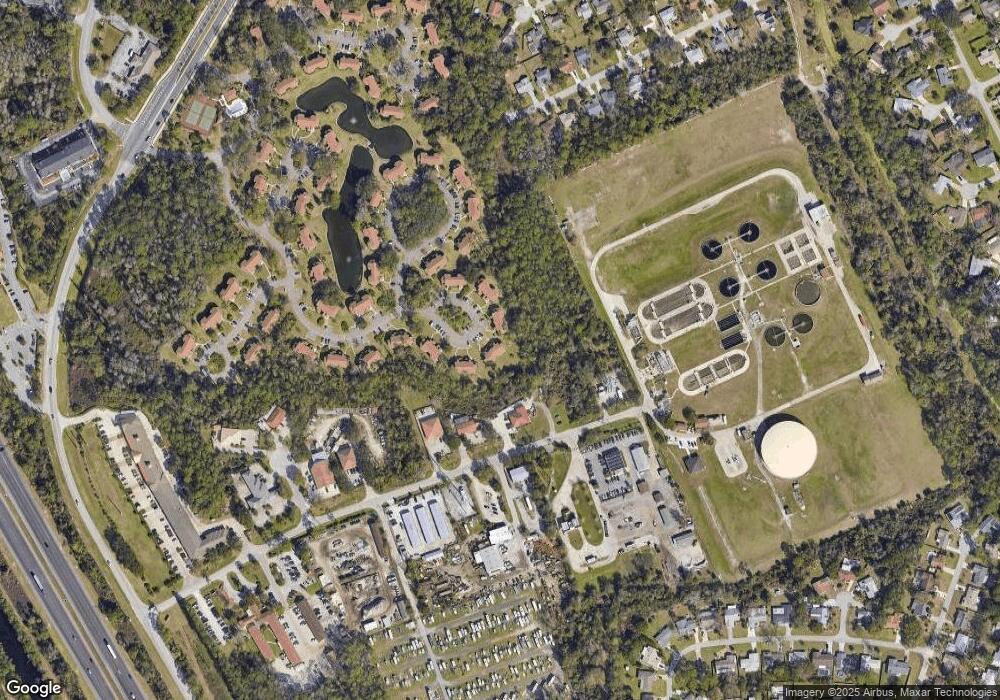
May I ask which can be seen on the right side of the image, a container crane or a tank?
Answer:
tank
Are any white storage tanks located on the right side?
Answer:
Yes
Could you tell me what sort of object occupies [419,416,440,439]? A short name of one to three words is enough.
building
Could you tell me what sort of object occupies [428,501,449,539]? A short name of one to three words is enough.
shed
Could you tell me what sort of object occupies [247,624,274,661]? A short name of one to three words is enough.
building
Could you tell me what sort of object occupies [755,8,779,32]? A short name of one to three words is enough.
house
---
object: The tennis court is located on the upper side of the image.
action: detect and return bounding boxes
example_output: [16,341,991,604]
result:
[181,94,219,139]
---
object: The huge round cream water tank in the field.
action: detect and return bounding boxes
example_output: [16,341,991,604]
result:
[761,421,818,478]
